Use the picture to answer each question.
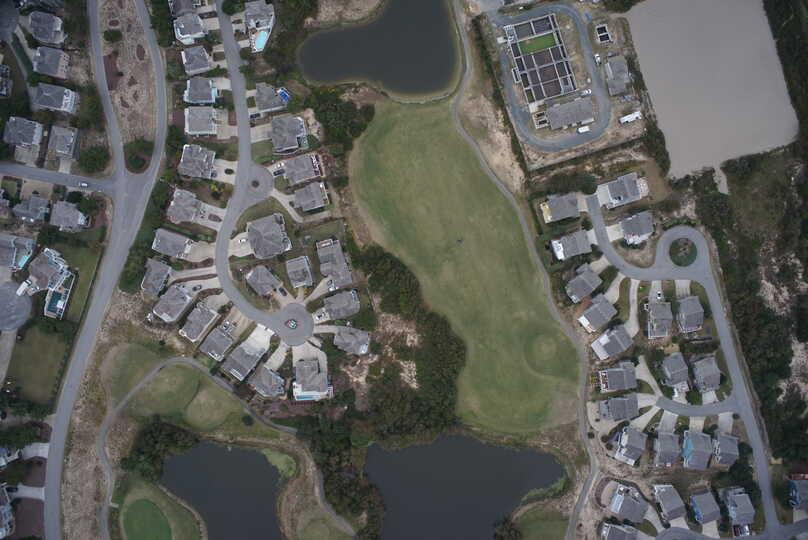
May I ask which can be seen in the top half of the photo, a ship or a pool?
pool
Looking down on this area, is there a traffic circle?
Yes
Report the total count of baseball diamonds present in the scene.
none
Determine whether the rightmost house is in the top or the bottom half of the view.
bottom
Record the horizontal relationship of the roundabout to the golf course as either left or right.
right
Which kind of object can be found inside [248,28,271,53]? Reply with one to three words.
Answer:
swimming pool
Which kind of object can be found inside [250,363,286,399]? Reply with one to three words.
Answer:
house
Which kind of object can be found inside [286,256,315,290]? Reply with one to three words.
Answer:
house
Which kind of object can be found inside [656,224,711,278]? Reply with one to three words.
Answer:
roundabout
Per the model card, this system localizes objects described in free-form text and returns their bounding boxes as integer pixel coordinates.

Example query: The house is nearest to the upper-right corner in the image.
[600,55,634,98]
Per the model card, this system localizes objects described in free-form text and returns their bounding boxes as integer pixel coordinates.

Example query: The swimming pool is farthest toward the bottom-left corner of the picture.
[43,288,68,318]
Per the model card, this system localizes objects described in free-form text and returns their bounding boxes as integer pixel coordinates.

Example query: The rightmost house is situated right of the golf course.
[780,471,808,509]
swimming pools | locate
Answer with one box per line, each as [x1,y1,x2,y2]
[279,86,292,99]
[17,248,33,268]
[294,388,327,401]
[248,28,271,53]
[43,288,68,318]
